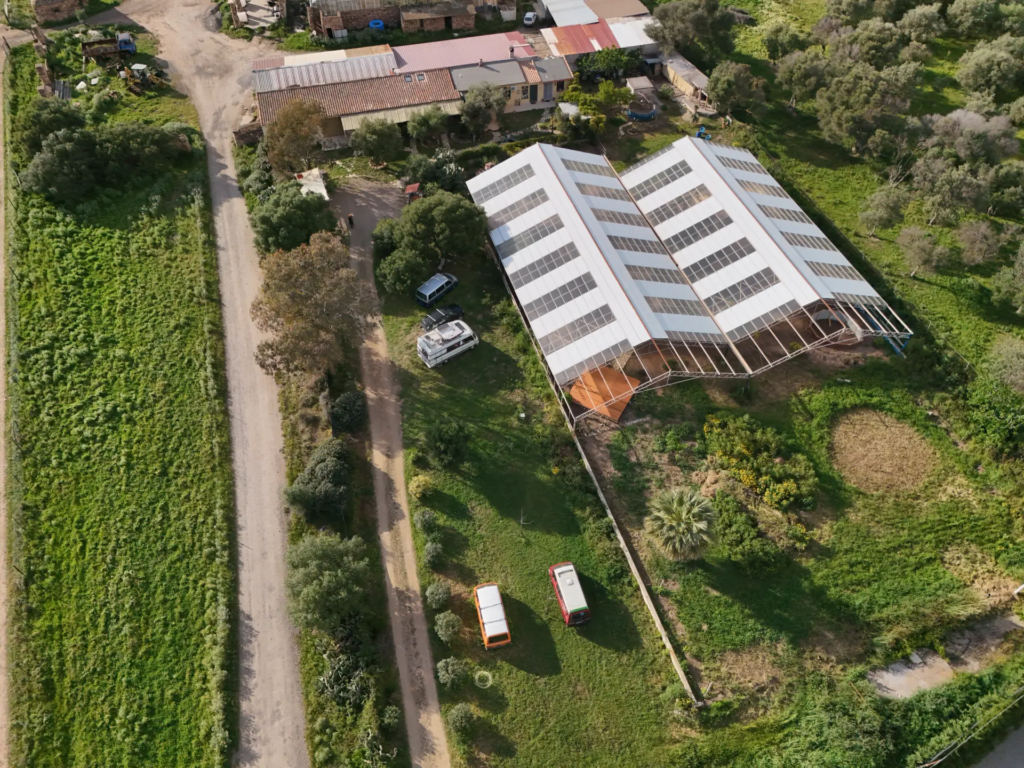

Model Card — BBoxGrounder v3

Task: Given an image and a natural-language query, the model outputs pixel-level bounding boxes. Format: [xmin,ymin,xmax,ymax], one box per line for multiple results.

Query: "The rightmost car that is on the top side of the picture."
[524,10,536,26]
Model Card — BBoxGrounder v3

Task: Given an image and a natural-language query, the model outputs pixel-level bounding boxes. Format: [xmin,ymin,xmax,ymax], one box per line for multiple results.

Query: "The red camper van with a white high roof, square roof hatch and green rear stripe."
[549,562,589,627]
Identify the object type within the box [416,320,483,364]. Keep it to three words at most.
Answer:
camper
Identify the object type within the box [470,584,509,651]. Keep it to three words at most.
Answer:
van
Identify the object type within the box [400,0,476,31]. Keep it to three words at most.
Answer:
shed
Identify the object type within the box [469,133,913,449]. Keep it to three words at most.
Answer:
shed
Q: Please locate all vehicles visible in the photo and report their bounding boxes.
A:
[122,60,171,88]
[419,304,468,333]
[418,274,461,310]
[416,320,483,364]
[80,33,139,59]
[470,584,509,651]
[524,10,536,26]
[549,562,589,627]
